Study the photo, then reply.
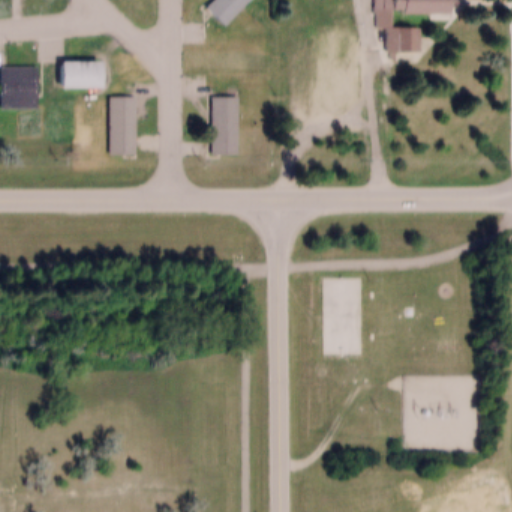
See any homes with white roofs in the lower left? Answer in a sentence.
No, looking in the lower left, there is no home with a white roof.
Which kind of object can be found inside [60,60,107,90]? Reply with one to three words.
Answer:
house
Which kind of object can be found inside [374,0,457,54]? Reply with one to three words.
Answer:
house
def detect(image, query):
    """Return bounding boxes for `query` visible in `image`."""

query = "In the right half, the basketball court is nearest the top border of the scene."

[322,278,362,356]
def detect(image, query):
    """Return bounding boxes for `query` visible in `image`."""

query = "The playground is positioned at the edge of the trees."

[403,376,478,450]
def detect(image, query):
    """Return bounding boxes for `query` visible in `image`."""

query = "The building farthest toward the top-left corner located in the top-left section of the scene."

[0,65,41,109]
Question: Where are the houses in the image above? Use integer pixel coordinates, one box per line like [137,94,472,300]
[210,96,239,155]
[209,0,250,26]
[374,0,457,54]
[60,60,107,90]
[0,65,41,109]
[109,96,136,156]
